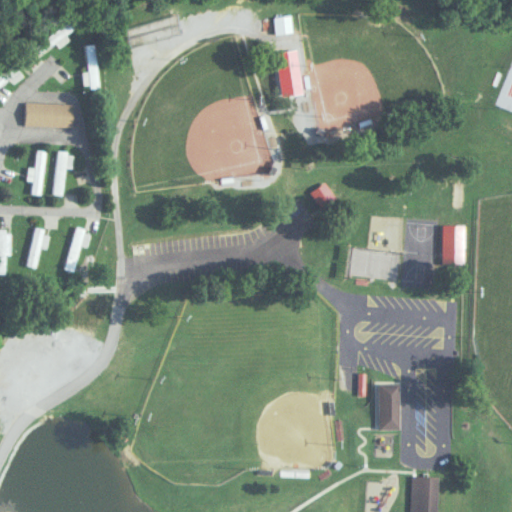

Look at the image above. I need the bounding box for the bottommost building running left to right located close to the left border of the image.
[26,103,74,127]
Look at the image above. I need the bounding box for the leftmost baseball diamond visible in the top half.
[132,36,273,192]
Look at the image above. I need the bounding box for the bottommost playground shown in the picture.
[366,474,399,512]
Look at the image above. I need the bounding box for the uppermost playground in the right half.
[368,216,404,253]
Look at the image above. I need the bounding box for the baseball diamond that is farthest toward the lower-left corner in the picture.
[131,282,339,486]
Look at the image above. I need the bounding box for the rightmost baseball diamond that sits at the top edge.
[298,13,444,133]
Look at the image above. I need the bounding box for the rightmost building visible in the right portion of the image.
[442,225,467,266]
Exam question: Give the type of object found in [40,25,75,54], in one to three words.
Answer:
house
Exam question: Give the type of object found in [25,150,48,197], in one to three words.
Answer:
house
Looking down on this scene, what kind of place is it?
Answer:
sports ground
